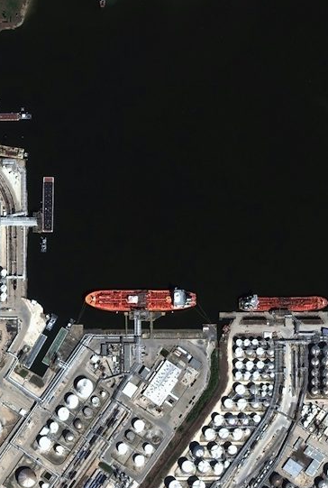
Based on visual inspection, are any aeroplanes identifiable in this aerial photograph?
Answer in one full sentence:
No, the picture doesn't show any aeroplane.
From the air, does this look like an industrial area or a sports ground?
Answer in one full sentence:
It's an industrial area.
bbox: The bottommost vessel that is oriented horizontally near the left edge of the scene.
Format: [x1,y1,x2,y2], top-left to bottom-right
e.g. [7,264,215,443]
[0,147,25,159]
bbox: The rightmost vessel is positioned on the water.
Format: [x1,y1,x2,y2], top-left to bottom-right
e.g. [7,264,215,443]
[239,293,328,311]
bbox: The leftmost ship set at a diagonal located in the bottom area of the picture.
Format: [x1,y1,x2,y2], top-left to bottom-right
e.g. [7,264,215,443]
[24,335,47,369]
